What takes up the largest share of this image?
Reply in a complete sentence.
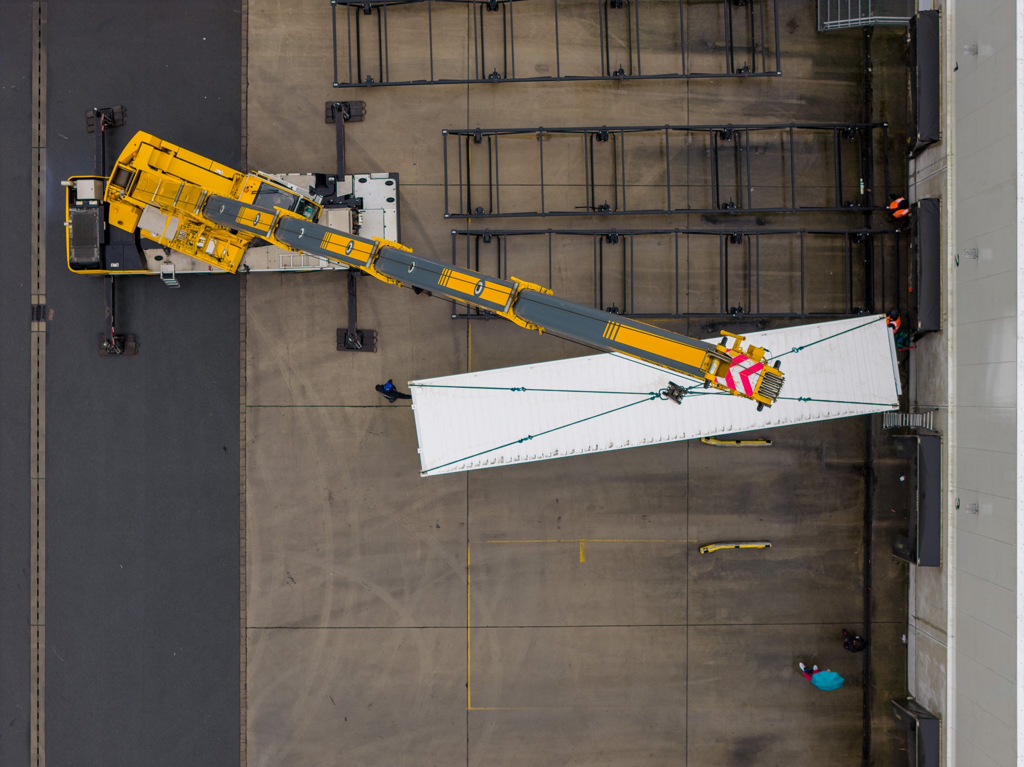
Most of the picture is covered by paved ground.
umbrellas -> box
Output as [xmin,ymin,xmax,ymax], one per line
[810,665,845,692]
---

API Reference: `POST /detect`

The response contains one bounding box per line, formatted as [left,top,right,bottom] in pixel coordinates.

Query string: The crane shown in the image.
[60,101,790,412]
